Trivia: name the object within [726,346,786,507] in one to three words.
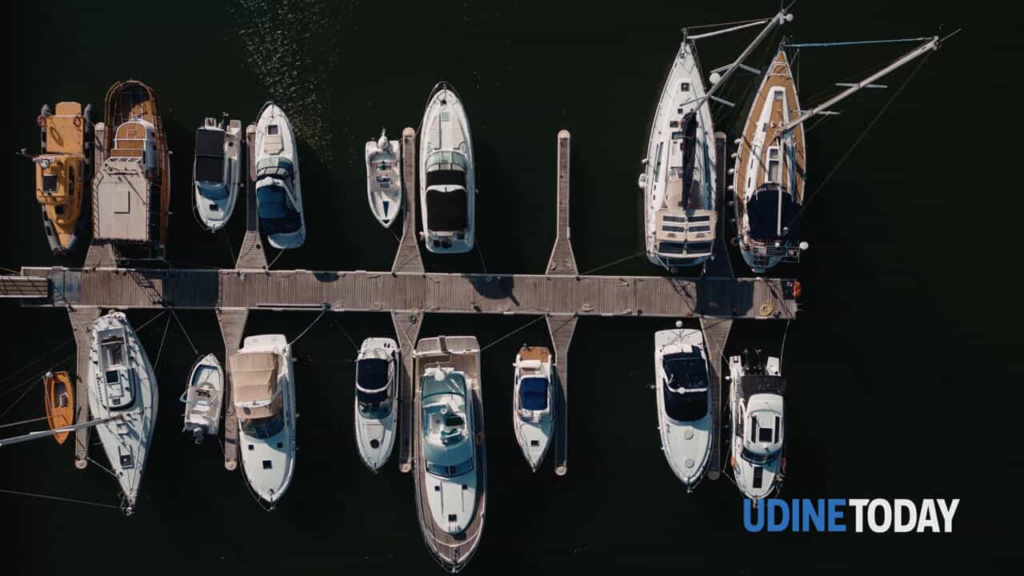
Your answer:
boat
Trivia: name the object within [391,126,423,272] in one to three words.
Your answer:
pier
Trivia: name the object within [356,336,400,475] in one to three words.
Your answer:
boat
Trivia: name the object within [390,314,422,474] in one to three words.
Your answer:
pier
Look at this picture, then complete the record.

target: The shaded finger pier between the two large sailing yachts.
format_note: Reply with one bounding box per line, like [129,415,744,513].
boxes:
[702,131,736,276]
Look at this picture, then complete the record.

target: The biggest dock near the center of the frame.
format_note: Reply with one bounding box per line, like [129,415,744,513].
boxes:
[19,266,796,322]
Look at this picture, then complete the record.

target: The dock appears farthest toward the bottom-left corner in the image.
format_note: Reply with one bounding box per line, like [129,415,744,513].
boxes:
[63,308,100,471]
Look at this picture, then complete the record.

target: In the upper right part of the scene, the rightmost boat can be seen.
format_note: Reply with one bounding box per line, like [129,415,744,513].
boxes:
[730,35,955,272]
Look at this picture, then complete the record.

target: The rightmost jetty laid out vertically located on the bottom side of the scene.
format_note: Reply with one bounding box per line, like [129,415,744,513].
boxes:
[701,320,736,481]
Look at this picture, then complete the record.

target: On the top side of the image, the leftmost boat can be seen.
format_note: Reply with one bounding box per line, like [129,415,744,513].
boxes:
[13,101,91,258]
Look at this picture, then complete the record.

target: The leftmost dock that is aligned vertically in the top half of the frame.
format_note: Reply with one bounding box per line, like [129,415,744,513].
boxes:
[78,120,116,268]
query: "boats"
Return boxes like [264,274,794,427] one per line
[356,336,400,475]
[514,344,555,475]
[643,10,797,273]
[726,346,786,507]
[419,83,475,254]
[13,101,91,258]
[366,122,401,226]
[412,335,487,571]
[654,327,712,491]
[0,308,159,519]
[181,354,225,440]
[45,370,77,444]
[231,334,296,513]
[255,96,308,249]
[94,80,174,251]
[190,105,242,236]
[730,35,955,272]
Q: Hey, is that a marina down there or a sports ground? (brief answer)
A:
marina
